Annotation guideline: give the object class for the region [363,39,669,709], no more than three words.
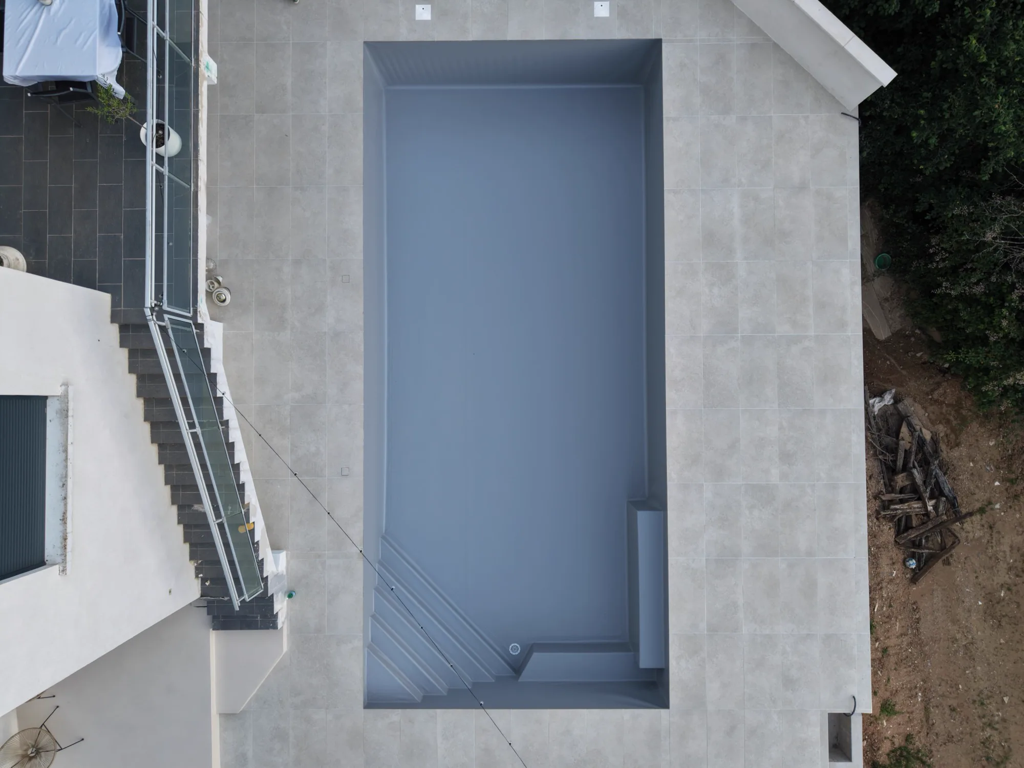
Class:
swimming pool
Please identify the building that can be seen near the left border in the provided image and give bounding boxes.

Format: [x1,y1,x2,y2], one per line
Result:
[0,269,200,768]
